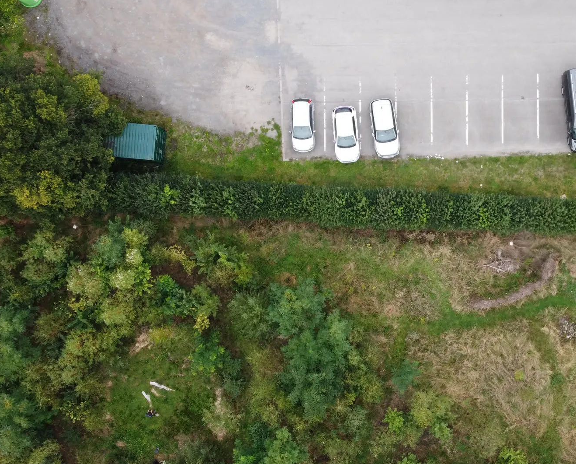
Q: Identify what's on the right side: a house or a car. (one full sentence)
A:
It is a car that can be seen on the right side.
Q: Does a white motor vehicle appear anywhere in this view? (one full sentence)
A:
Yes, the picture does show a white motor vehicle.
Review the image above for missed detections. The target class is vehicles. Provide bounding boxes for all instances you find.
[562,67,576,156]
[287,98,317,153]
[330,107,362,165]
[369,100,400,159]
